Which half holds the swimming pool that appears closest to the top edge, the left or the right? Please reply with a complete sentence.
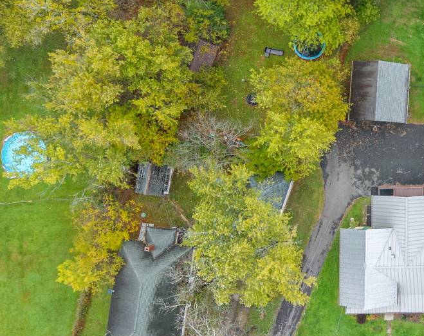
It is on the left.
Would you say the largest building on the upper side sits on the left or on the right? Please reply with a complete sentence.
The largest building on the upper side is on the right side of the image.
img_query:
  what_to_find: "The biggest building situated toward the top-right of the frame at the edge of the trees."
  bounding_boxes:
[349,59,412,124]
